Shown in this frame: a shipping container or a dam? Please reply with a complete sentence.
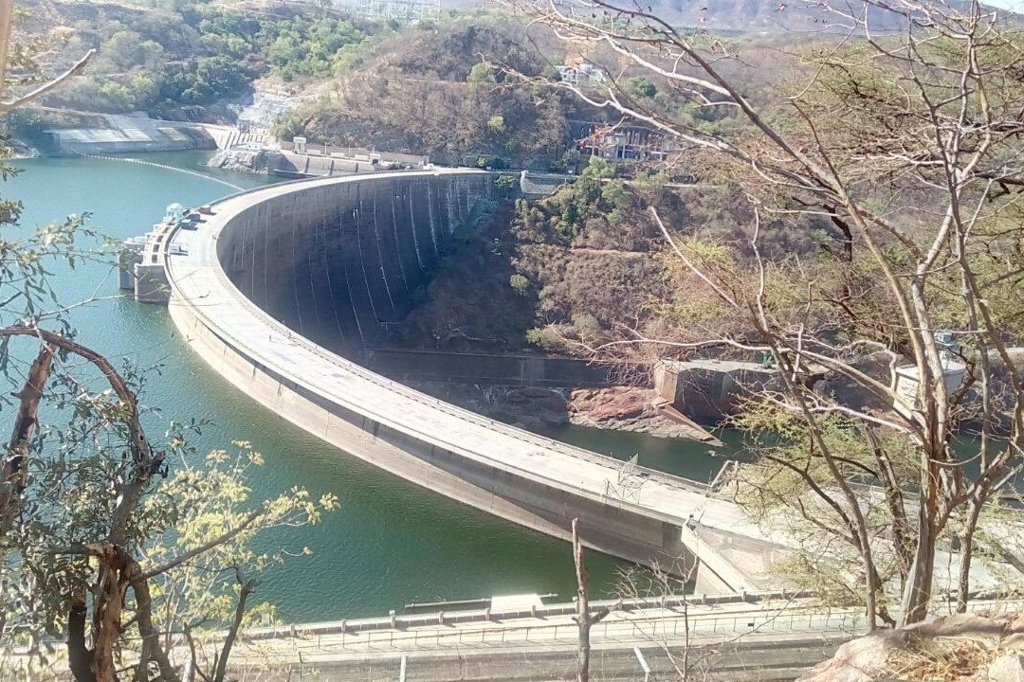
Of the two, only a dam appears.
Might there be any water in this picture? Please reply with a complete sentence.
Yes, there is water in the image.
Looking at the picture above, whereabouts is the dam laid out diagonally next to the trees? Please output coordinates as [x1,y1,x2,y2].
[159,166,790,584]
